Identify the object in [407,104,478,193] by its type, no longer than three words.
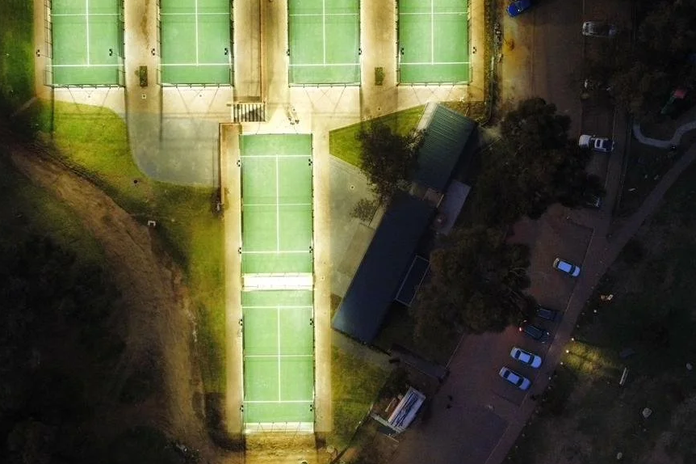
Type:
building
